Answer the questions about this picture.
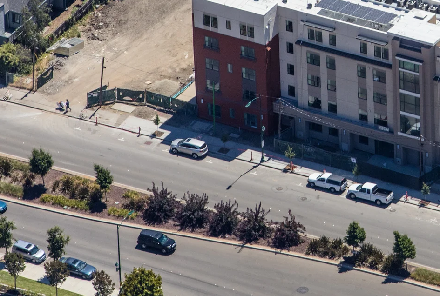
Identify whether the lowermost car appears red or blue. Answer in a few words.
blue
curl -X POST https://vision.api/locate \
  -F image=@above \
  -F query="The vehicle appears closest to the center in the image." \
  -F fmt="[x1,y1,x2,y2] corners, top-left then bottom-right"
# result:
[167,137,210,159]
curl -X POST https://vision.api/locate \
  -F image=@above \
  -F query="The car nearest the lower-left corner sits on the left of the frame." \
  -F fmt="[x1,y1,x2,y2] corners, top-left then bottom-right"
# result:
[7,238,48,264]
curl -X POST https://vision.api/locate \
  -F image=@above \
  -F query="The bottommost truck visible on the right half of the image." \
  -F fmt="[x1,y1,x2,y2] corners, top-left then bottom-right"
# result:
[341,181,397,206]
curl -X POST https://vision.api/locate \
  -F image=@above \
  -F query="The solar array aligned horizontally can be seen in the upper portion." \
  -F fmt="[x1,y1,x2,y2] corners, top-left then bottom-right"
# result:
[314,0,399,30]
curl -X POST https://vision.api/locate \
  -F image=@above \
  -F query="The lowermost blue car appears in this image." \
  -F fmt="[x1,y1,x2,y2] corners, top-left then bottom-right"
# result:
[58,256,99,280]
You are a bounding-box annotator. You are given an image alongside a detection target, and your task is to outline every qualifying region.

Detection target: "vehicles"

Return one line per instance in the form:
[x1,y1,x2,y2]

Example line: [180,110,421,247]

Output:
[167,137,210,159]
[298,168,352,194]
[134,228,180,255]
[0,196,13,212]
[7,238,48,264]
[58,256,99,280]
[341,181,397,206]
